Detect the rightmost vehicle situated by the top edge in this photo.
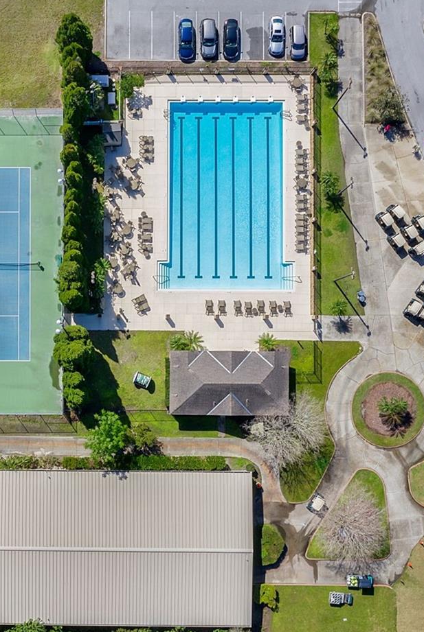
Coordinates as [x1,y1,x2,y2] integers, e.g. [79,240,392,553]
[289,24,308,62]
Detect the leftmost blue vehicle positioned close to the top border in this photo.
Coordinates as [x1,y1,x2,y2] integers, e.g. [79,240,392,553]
[178,20,196,61]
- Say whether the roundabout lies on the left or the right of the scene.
right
